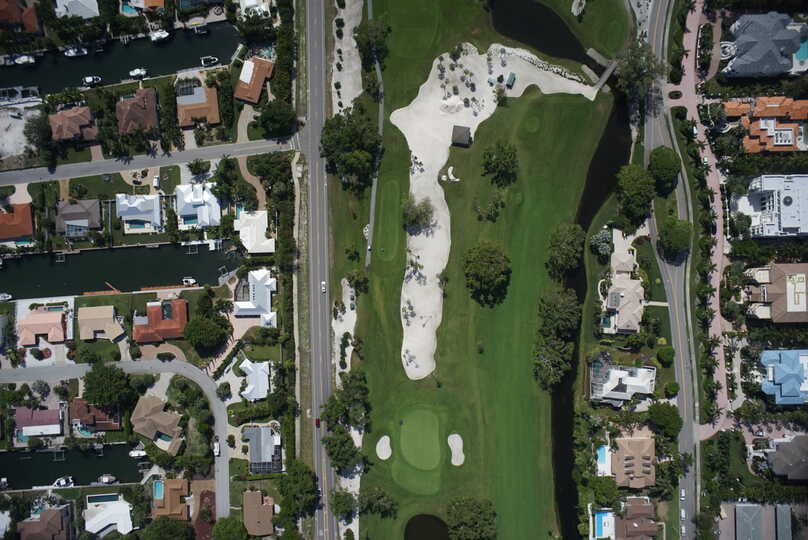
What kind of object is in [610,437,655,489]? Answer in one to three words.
house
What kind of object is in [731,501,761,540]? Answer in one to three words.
building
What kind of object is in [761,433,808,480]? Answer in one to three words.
house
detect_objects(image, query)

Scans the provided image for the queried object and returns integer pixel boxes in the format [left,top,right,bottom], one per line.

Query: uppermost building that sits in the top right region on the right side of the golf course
[720,10,801,77]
